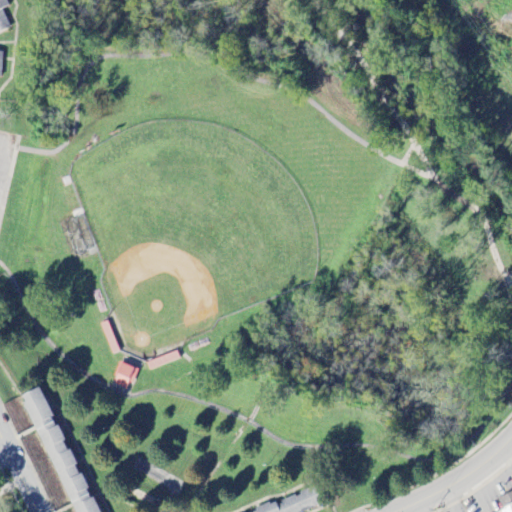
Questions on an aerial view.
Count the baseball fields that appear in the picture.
1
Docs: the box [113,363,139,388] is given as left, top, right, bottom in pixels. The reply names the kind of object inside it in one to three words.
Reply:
building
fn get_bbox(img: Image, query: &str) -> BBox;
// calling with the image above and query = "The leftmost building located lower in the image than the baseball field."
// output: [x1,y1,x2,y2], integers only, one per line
[20,388,100,512]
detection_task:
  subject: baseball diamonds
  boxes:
[70,118,318,360]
